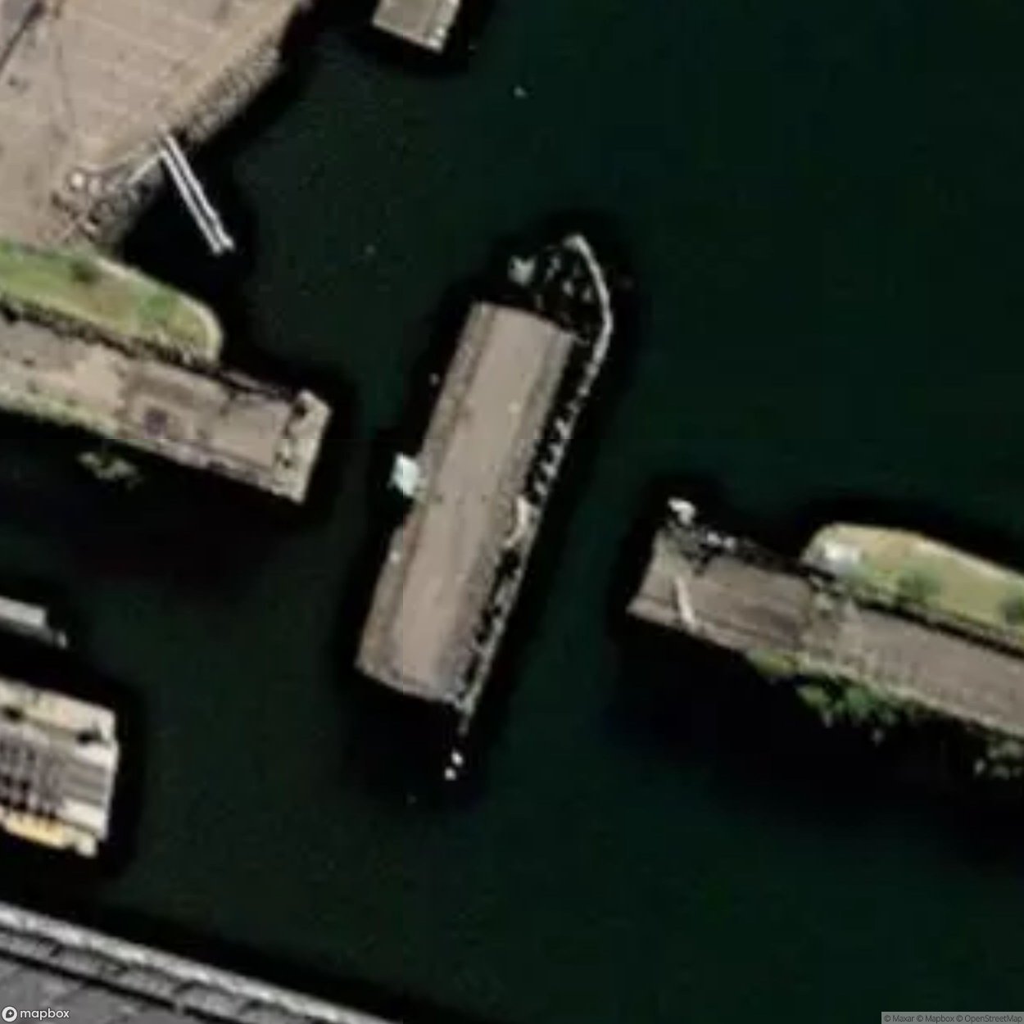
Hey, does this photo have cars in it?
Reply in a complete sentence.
No, no car can be seen from above.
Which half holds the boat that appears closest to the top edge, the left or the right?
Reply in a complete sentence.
The boat that appears closest to the top edge sits on the left side.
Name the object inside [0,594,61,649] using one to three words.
boat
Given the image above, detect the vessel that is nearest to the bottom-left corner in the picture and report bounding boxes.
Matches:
[0,679,122,852]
